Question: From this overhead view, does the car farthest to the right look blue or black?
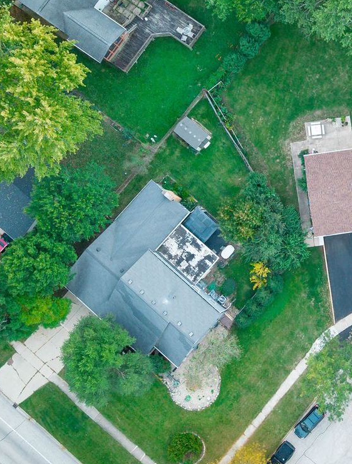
blue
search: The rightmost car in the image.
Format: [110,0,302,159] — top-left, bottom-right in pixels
[292,408,325,442]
